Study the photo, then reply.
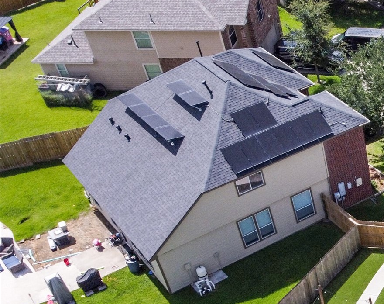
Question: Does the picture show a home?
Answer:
Yes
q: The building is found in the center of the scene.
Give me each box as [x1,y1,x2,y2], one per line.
[62,46,375,293]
